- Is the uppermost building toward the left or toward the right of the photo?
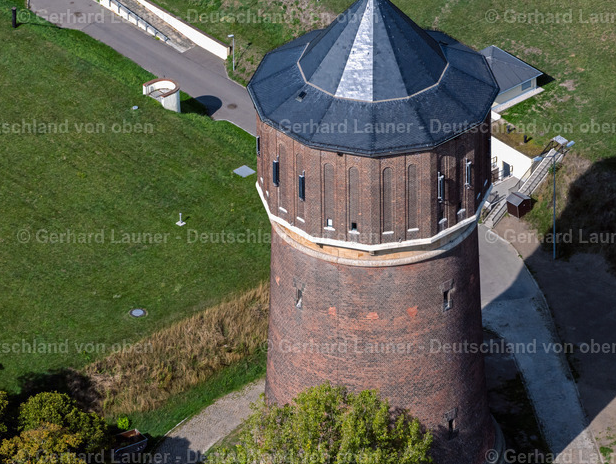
right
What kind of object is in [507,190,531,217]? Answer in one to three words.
shed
